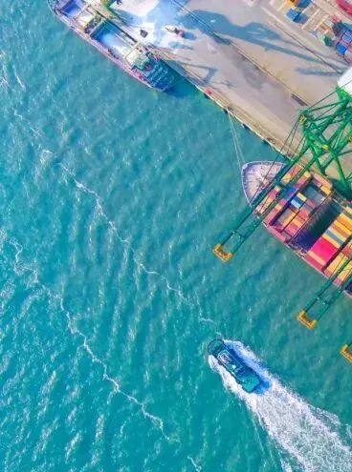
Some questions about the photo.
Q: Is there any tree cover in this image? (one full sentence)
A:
No, the picture contains no tree cover.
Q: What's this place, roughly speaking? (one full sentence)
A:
It's a port.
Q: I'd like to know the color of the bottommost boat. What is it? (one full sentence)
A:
The bottommost boat is blue.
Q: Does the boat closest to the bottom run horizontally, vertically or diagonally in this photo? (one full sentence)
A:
In this picture, the boat closest to the bottom is oriented diagonally.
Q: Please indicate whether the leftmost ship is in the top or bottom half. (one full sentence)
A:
The leftmost ship sits in the top half of the picture.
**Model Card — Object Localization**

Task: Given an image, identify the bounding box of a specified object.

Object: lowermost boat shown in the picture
[207,341,260,389]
